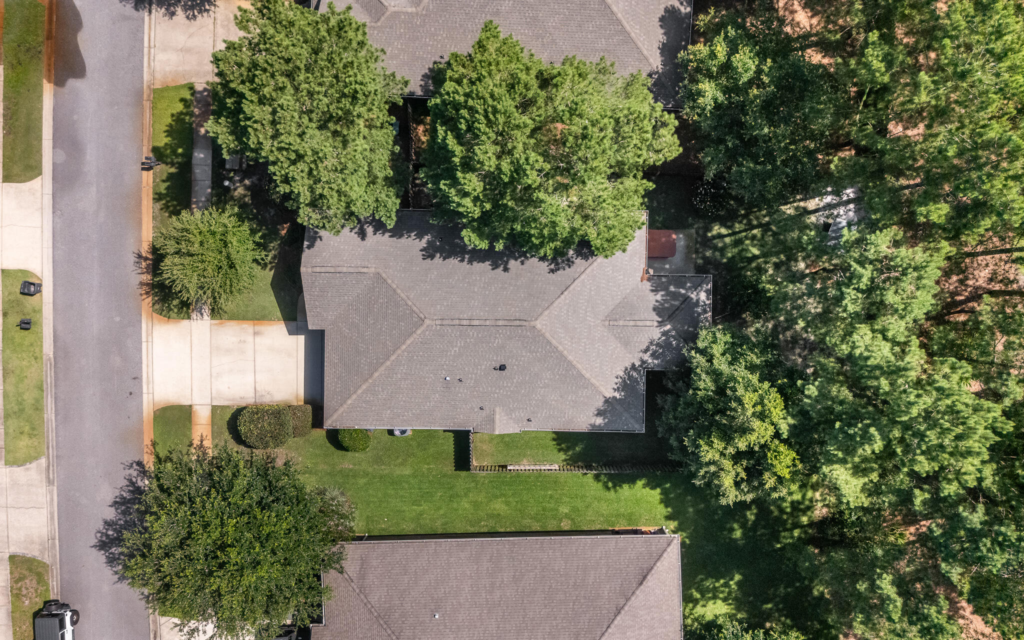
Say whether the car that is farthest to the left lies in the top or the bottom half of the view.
bottom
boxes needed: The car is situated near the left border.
[38,603,78,640]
